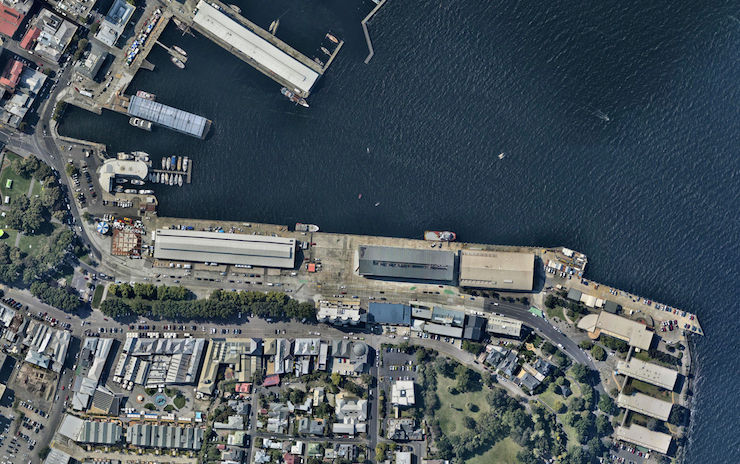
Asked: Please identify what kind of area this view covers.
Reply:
port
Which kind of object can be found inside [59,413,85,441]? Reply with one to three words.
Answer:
building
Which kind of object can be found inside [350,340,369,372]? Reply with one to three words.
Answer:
building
